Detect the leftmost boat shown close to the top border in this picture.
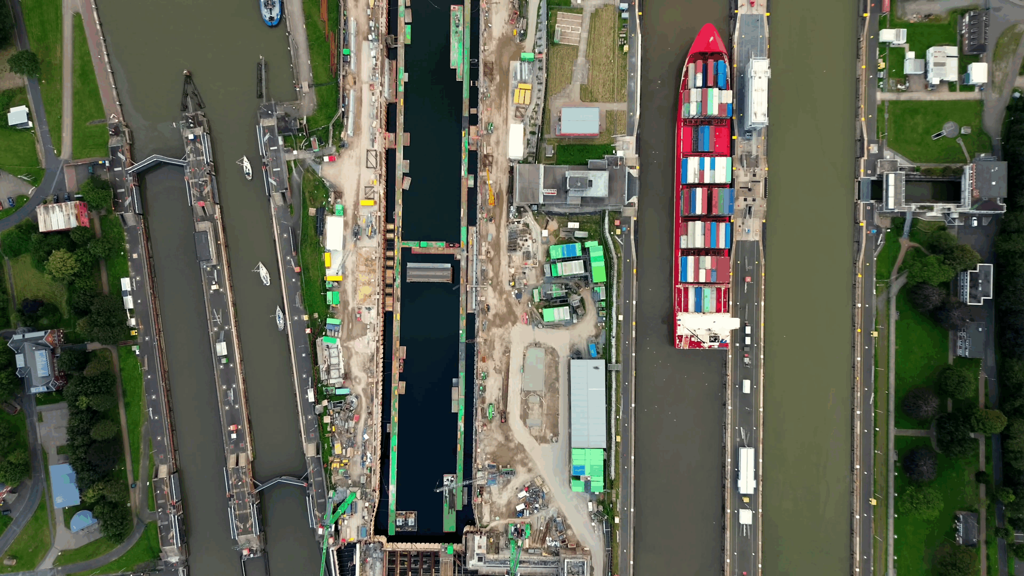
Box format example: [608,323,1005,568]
[260,0,285,29]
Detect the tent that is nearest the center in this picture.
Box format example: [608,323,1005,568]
[509,124,523,161]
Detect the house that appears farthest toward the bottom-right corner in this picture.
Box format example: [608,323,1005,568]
[947,506,975,541]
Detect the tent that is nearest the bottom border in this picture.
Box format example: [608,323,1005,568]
[327,216,346,251]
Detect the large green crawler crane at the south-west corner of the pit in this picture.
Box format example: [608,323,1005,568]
[318,492,357,576]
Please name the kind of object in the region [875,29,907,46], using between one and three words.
shed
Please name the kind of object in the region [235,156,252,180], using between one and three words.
boat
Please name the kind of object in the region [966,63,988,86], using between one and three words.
building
